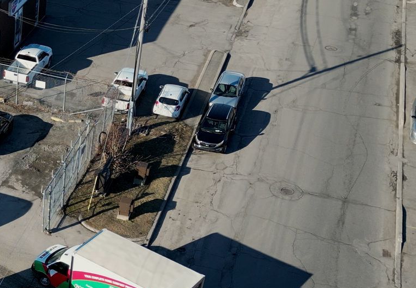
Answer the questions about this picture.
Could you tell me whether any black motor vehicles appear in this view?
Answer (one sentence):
Yes, this view includes a black motor vehicle.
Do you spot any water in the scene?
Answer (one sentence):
No, water can't be seen anywhere here.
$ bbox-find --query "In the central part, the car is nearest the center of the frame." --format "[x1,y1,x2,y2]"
[193,99,237,152]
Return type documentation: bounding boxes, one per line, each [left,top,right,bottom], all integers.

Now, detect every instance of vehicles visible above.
[211,74,248,115]
[193,99,237,152]
[151,81,190,118]
[100,66,149,116]
[27,229,205,288]
[0,107,15,139]
[1,43,54,88]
